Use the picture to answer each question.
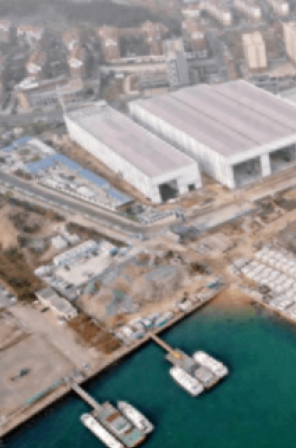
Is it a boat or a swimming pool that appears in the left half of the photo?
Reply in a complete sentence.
Looking in the left half of the photo, you will find a boat.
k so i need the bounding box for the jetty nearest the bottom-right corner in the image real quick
[163,348,220,388]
